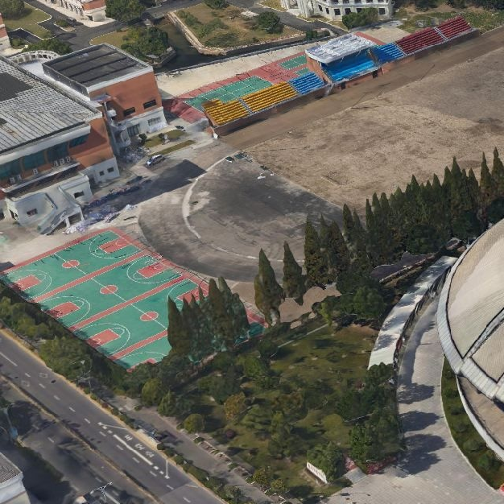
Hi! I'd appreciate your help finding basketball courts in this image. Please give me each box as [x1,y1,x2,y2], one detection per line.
[0,223,284,403]
[43,254,177,324]
[78,278,207,358]
[119,339,174,370]
[1,231,139,297]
